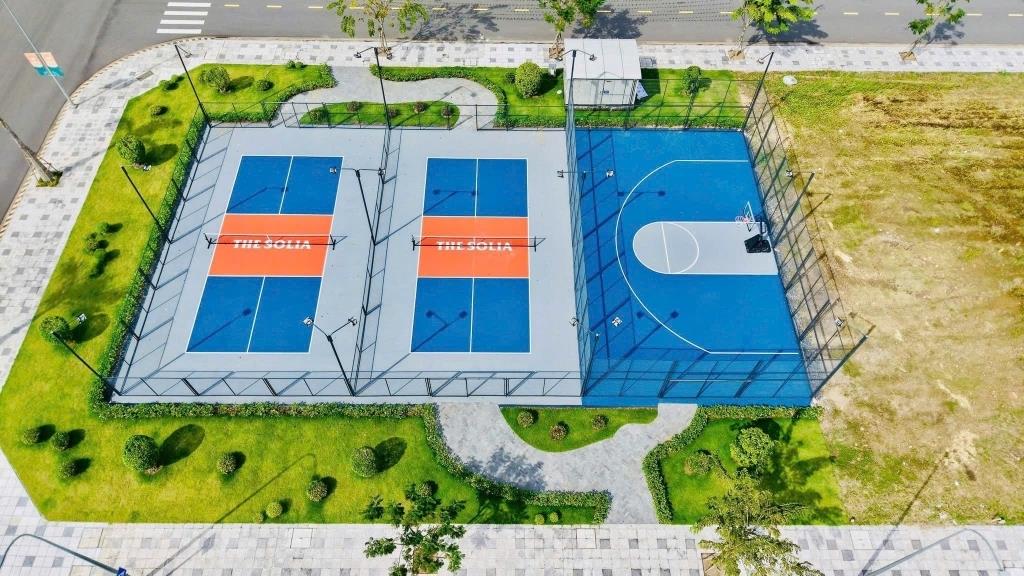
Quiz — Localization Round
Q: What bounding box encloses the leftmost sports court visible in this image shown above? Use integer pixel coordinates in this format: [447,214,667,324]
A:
[109,123,389,404]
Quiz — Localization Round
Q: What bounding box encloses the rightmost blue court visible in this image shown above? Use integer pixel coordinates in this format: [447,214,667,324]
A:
[567,128,814,406]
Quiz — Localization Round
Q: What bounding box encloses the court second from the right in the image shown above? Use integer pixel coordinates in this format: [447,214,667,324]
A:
[354,126,585,405]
